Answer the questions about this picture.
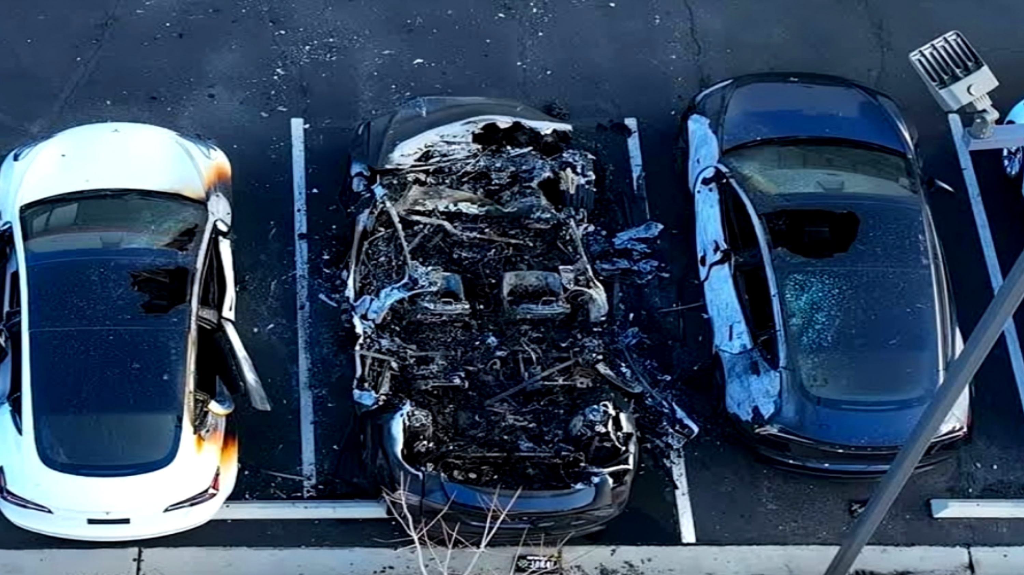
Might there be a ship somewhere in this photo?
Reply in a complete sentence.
No, I find no ship anywhere in the image.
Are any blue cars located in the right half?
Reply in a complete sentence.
Yes, I can see a blue car in the right half.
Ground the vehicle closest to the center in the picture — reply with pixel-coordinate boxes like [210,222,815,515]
[346,93,637,536]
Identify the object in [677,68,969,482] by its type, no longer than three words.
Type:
car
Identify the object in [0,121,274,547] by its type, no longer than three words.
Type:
car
